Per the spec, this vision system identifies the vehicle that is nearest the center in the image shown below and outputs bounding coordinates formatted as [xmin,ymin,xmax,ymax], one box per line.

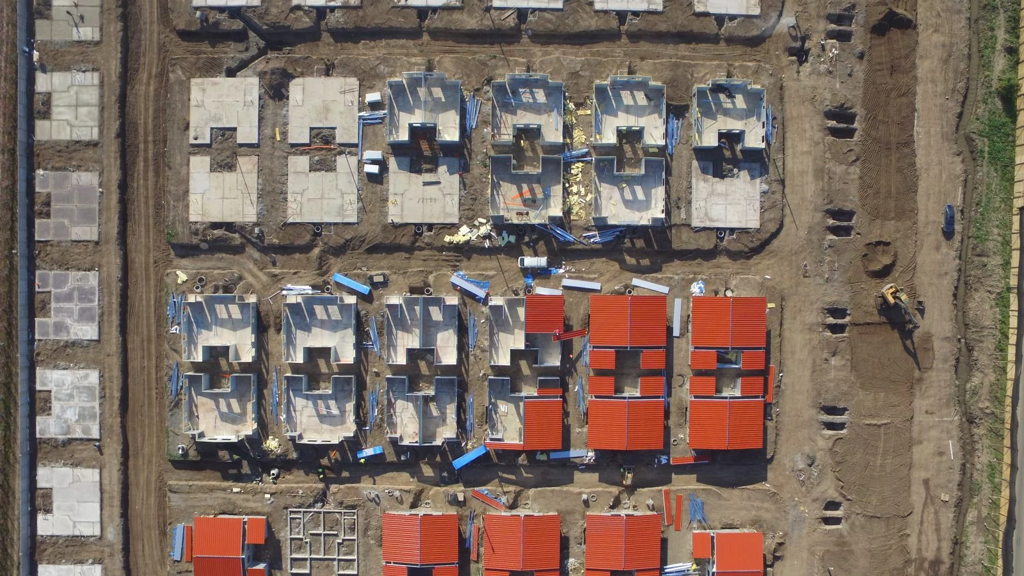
[518,255,548,268]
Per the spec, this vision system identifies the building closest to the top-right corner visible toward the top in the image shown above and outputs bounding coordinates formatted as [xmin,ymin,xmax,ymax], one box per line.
[690,78,765,151]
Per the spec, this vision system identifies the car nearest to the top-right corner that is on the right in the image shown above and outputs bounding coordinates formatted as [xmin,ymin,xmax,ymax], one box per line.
[938,205,955,233]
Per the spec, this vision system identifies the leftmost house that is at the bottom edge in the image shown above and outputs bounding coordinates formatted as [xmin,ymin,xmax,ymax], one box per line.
[191,515,271,576]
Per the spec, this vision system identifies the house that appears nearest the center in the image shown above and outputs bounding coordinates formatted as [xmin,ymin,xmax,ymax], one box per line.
[491,295,564,366]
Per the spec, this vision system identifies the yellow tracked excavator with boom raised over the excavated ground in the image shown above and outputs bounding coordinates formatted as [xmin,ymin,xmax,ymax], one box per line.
[873,285,920,333]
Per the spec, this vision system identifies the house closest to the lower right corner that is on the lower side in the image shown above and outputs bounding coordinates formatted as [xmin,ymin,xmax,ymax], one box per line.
[691,528,768,576]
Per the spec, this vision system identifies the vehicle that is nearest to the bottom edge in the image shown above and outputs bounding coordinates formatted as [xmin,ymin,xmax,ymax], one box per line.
[620,462,633,483]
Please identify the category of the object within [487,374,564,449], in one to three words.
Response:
house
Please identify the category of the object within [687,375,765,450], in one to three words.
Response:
house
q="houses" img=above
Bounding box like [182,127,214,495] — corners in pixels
[181,295,257,364]
[491,154,561,224]
[588,375,665,449]
[491,295,564,366]
[687,375,765,450]
[492,73,562,146]
[282,373,356,444]
[691,528,768,576]
[282,296,356,364]
[387,72,458,145]
[487,374,564,449]
[593,156,665,226]
[593,75,665,148]
[690,78,765,151]
[382,510,459,576]
[385,373,457,445]
[191,515,271,576]
[181,372,258,443]
[484,511,561,576]
[585,511,662,576]
[590,295,667,368]
[691,295,769,368]
[385,297,456,365]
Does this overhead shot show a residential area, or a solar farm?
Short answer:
residential area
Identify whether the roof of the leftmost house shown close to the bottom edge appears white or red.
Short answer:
red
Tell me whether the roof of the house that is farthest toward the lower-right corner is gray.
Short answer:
No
